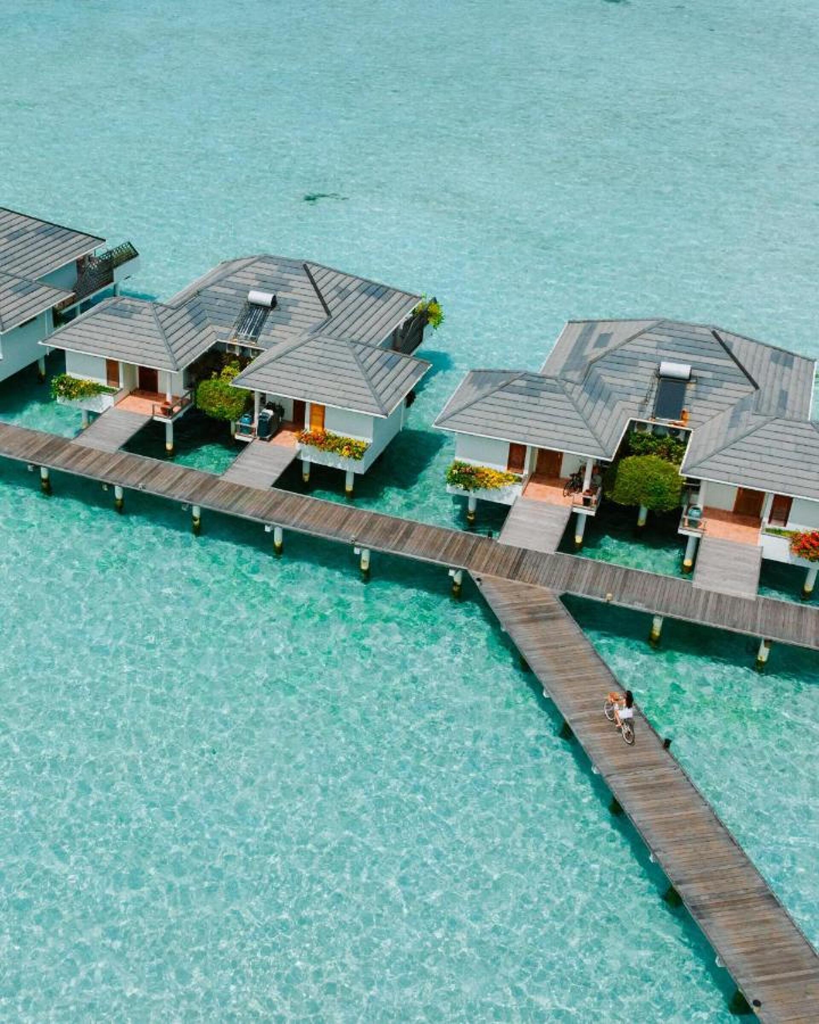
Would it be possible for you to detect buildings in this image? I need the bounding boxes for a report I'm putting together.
[38,253,443,505]
[430,317,819,603]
